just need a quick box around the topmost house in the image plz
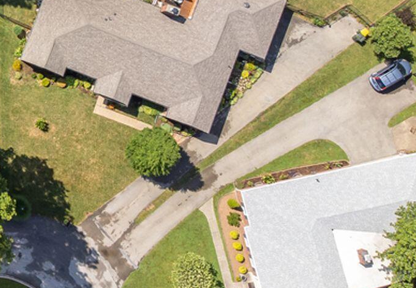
[20,0,288,134]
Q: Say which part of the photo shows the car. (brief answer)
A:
top right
